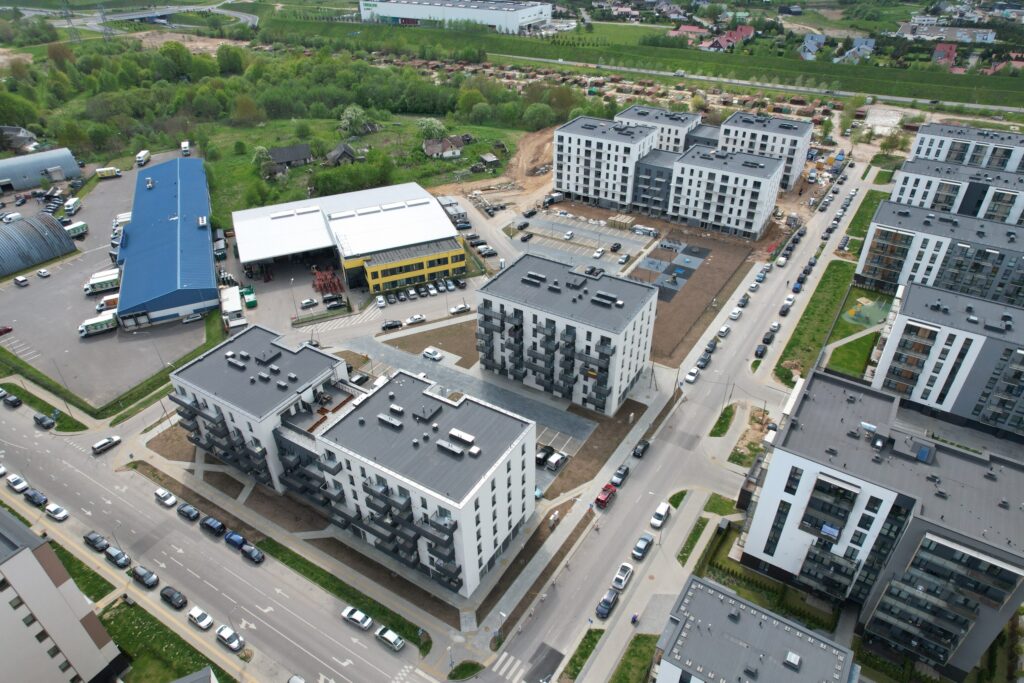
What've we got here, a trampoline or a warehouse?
warehouse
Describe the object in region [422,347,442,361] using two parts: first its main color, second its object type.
white car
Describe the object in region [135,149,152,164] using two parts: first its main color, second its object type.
white vehicle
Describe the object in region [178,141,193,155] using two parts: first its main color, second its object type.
white vehicle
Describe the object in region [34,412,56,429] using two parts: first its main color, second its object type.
gray car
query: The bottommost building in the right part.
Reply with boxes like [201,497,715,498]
[640,576,861,683]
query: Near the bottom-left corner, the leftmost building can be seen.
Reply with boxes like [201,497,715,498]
[0,470,124,683]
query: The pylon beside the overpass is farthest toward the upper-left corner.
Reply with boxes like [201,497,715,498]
[56,0,82,40]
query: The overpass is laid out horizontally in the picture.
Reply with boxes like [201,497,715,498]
[95,3,237,28]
